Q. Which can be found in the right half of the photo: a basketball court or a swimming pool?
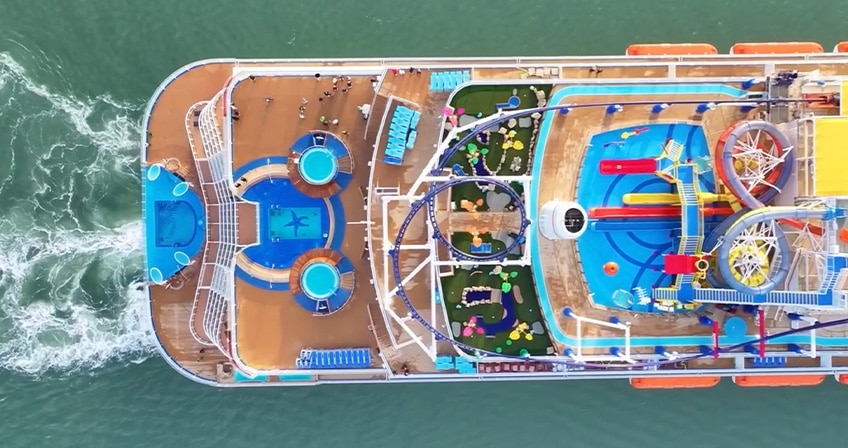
swimming pool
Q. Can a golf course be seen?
Yes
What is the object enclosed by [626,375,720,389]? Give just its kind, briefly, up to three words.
boat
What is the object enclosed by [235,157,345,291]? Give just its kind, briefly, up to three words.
swimming pool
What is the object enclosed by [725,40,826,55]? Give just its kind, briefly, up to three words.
boat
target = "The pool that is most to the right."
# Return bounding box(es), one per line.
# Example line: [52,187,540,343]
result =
[574,117,729,318]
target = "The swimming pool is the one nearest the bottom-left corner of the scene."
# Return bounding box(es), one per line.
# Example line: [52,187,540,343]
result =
[147,166,206,284]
